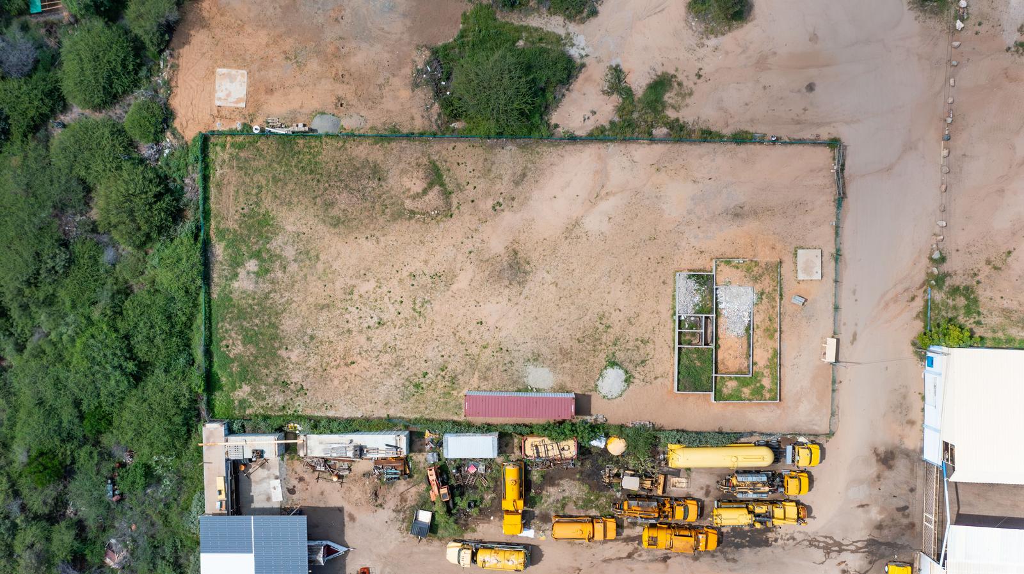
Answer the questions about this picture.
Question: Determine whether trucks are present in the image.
Yes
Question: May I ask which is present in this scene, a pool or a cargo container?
cargo container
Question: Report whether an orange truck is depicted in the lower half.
Yes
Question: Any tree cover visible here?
Yes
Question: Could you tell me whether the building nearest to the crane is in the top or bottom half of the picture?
bottom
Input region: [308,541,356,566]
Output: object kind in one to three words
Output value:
trailer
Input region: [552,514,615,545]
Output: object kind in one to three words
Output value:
truck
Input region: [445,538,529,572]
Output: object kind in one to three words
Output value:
truck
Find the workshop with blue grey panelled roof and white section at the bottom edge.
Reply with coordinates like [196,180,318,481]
[201,506,317,574]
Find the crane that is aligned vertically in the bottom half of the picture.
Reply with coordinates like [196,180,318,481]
[426,464,455,511]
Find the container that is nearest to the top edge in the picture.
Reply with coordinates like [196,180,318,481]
[465,392,575,421]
